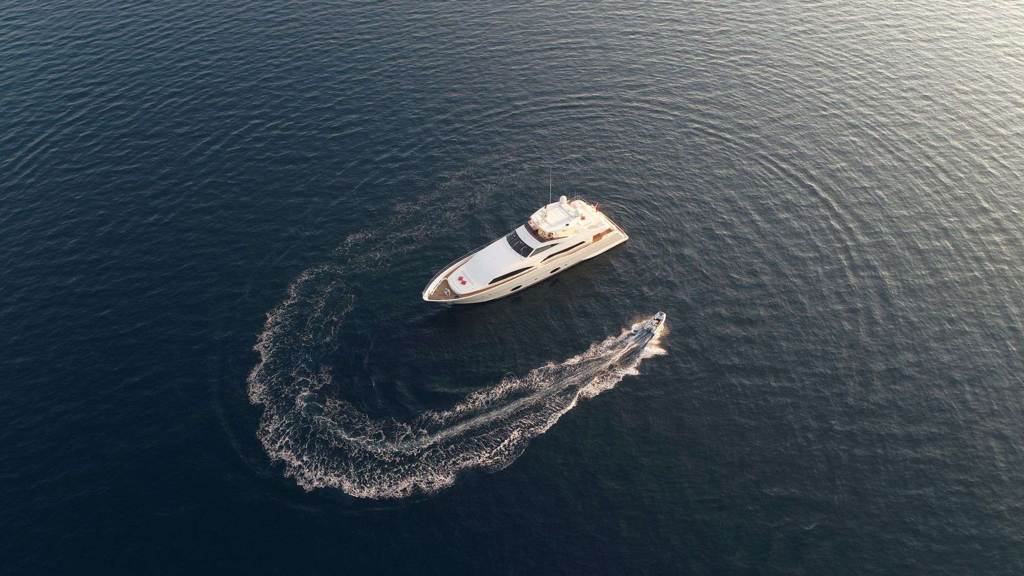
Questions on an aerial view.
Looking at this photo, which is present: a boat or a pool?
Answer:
boat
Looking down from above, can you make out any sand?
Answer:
No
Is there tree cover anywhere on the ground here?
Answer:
No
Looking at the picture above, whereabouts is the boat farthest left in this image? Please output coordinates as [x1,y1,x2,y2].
[422,179,628,305]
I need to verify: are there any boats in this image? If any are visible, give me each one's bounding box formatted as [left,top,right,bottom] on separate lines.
[422,179,628,305]
[642,310,666,336]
